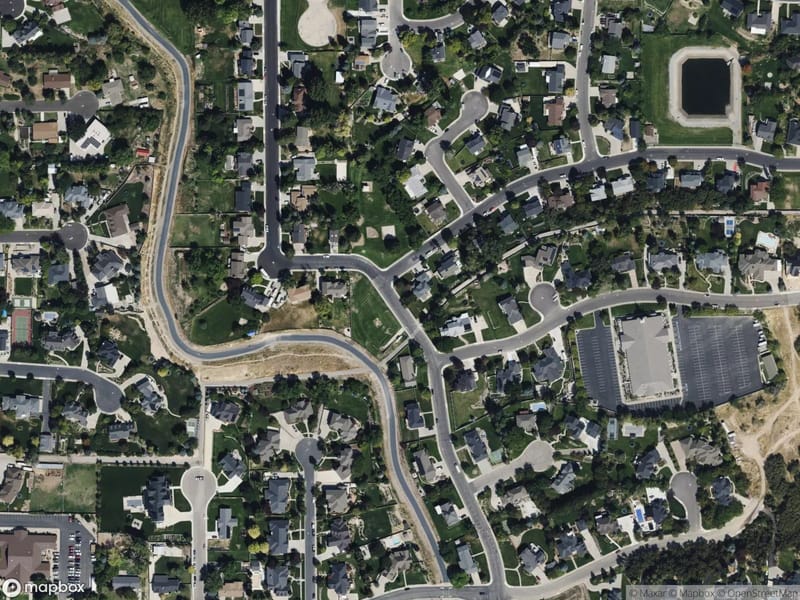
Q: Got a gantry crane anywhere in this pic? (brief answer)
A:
No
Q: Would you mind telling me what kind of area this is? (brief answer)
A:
residential area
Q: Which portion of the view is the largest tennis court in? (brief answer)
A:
left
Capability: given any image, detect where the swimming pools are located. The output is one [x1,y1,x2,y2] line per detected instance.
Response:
[41,312,59,323]
[530,402,546,412]
[123,496,144,512]
[635,504,647,530]
[757,231,778,253]
[381,533,411,548]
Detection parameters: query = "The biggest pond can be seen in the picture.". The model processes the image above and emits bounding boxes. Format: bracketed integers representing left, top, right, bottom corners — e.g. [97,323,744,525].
[670,46,742,128]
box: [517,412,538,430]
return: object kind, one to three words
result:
house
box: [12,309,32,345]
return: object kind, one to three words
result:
tennis court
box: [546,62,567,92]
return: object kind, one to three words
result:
house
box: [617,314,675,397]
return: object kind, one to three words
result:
building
